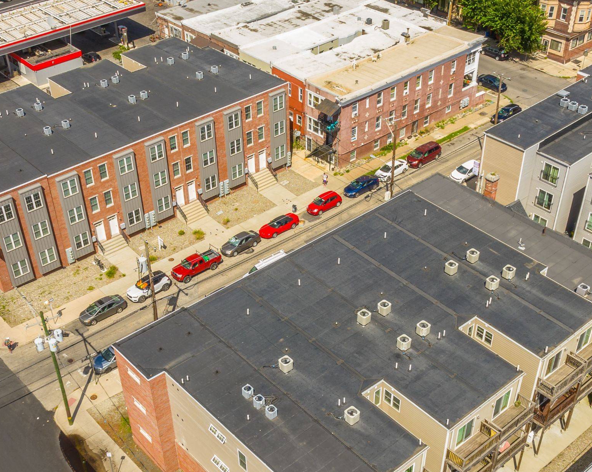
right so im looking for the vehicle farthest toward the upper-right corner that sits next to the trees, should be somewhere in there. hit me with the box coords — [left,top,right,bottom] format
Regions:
[479,43,511,63]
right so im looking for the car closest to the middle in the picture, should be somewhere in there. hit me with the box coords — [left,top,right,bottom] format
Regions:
[258,214,302,242]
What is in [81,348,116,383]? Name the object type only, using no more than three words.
car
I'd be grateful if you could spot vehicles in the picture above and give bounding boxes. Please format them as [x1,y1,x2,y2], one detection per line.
[84,51,106,64]
[479,43,511,63]
[448,160,477,184]
[404,139,445,169]
[342,175,382,200]
[491,100,522,122]
[81,348,116,383]
[258,214,302,242]
[373,160,411,184]
[218,230,263,260]
[305,190,344,217]
[78,294,131,328]
[475,76,511,94]
[233,236,287,278]
[168,244,224,287]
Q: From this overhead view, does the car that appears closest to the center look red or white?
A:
red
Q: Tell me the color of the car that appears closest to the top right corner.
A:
black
